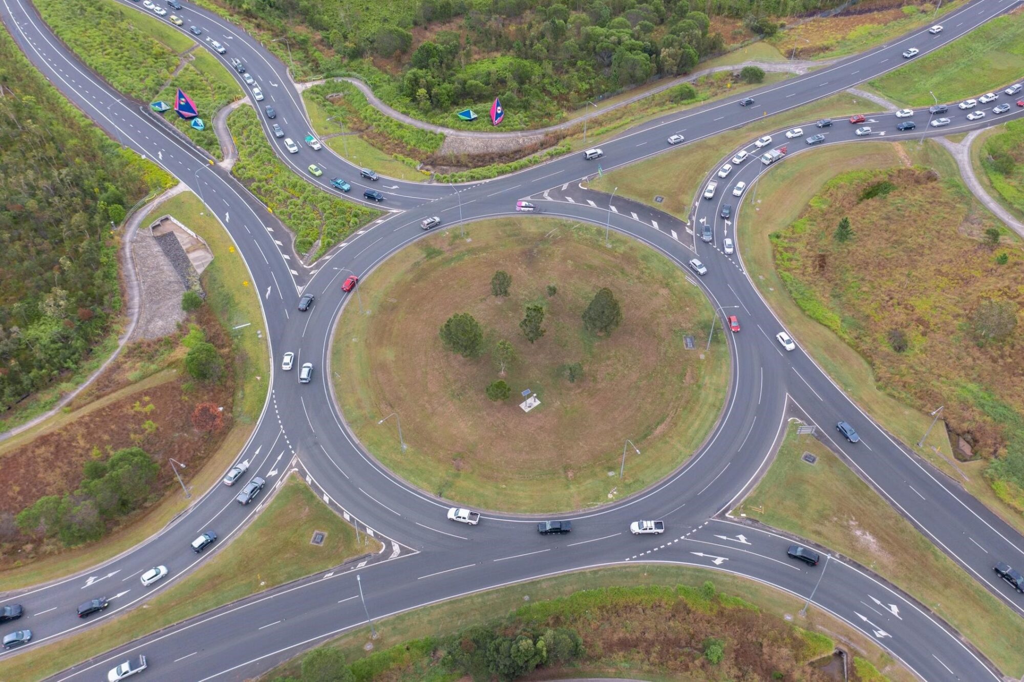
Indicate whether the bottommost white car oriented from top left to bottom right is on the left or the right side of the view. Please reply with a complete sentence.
It is on the right.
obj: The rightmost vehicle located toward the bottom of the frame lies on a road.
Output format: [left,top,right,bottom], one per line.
[991,562,1024,595]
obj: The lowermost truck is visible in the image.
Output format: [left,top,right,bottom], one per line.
[108,653,148,682]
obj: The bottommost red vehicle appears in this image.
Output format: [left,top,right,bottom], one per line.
[728,316,740,333]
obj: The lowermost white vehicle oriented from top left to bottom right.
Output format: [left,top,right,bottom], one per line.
[775,331,795,351]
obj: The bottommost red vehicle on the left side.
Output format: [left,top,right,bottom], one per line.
[340,276,359,293]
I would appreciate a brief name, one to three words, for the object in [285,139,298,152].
vehicle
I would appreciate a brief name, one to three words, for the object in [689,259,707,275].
car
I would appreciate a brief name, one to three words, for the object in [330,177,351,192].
vehicle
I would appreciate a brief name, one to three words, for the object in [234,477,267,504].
truck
